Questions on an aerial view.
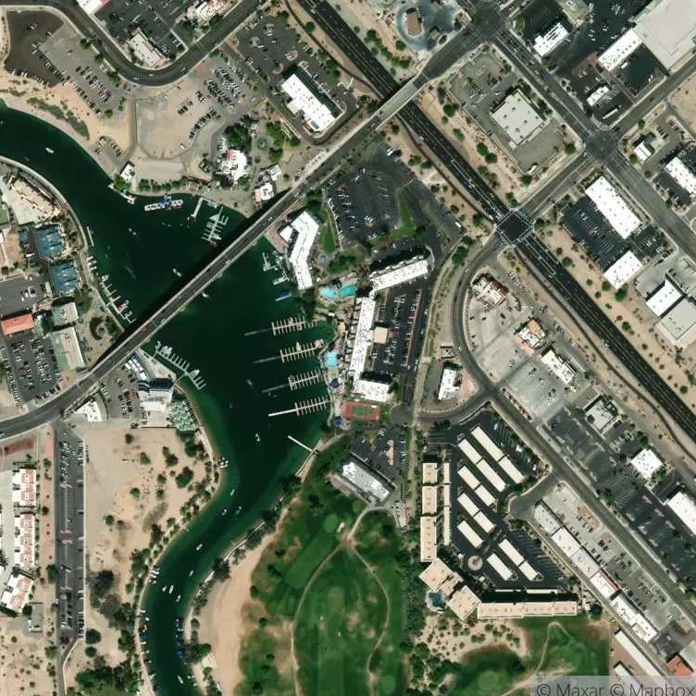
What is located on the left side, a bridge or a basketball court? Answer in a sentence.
You can see a bridge on the left side.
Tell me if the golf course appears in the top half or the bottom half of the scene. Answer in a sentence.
You can find the golf course in the bottom half.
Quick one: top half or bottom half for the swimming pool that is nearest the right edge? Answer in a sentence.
The swimming pool that is nearest the right edge sits in the bottom half of the picture.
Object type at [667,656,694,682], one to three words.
building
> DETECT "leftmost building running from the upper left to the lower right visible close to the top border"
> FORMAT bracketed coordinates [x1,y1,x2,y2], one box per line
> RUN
[129,31,164,67]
